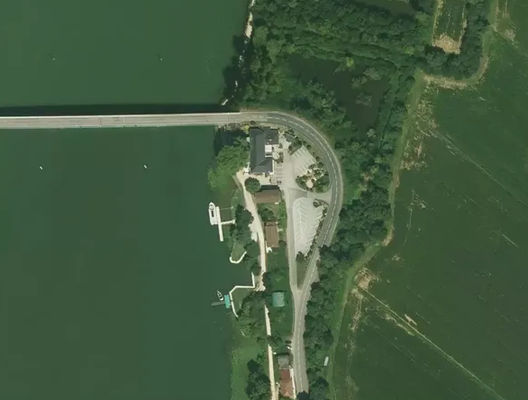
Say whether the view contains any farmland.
Yes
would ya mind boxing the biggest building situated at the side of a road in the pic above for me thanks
[250,128,279,173]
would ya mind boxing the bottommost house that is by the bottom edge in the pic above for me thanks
[280,369,295,397]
